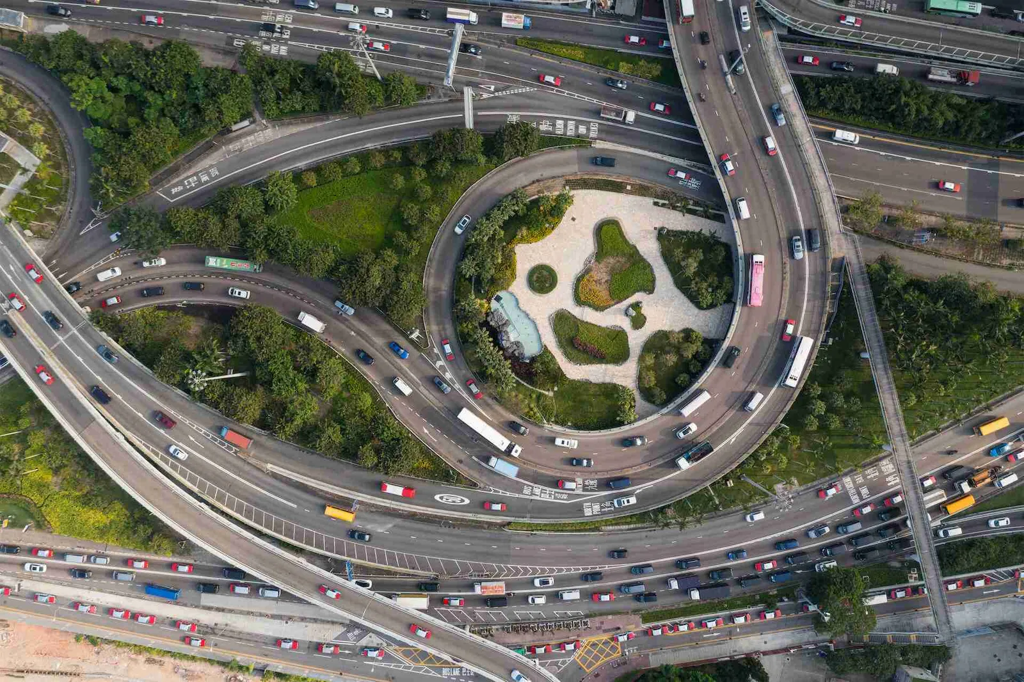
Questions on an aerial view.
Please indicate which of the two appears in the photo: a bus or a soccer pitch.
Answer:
bus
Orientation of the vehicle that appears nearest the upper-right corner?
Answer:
horizontally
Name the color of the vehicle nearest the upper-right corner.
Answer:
black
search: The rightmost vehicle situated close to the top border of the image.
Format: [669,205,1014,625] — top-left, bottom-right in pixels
[978,5,1016,25]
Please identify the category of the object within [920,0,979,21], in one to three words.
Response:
bus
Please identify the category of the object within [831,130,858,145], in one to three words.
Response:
vehicle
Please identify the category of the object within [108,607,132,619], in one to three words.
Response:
vehicle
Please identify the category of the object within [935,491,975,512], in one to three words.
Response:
truck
